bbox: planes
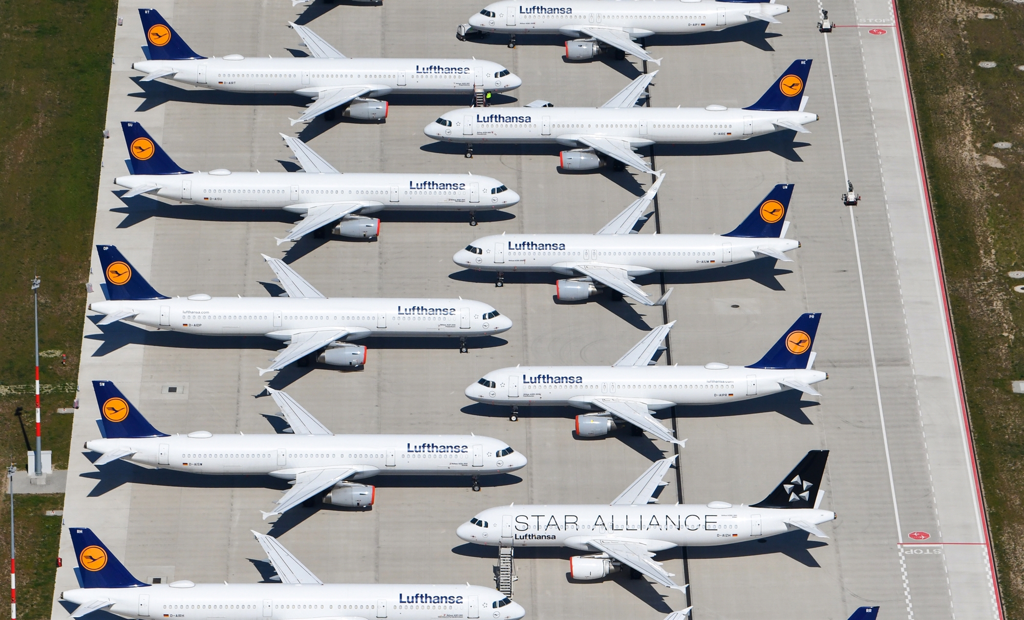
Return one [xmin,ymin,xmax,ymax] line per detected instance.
[84,380,526,520]
[131,8,522,126]
[88,244,512,377]
[62,527,524,620]
[114,121,520,246]
[464,313,829,449]
[423,58,820,178]
[468,0,790,66]
[452,174,802,306]
[456,449,837,593]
